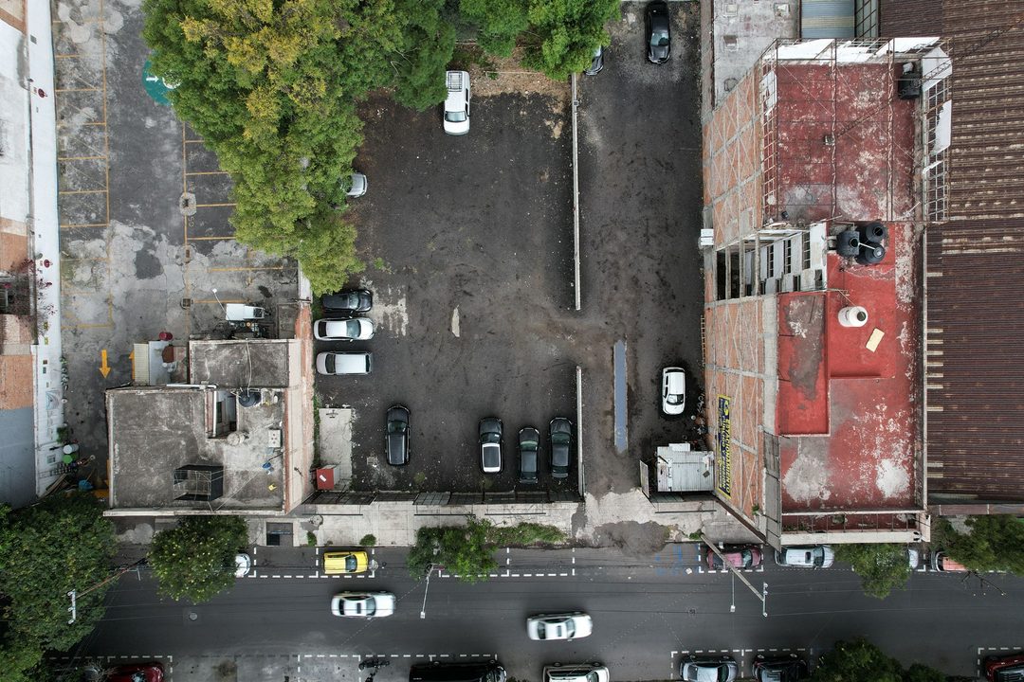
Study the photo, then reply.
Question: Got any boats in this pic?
No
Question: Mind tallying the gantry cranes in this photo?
0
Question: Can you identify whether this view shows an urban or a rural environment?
urban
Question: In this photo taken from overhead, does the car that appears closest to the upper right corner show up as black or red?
black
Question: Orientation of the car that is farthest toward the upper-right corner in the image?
up and down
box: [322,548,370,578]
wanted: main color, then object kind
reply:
yellow car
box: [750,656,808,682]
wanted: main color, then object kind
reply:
black car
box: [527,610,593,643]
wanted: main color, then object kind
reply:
white car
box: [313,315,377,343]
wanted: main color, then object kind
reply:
white car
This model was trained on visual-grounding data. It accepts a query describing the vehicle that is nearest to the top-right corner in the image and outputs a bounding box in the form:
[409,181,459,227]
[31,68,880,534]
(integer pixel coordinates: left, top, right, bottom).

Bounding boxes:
[645,8,673,66]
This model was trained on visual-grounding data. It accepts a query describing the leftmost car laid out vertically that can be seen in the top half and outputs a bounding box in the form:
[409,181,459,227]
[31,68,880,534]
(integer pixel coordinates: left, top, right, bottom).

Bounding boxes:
[441,69,471,137]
